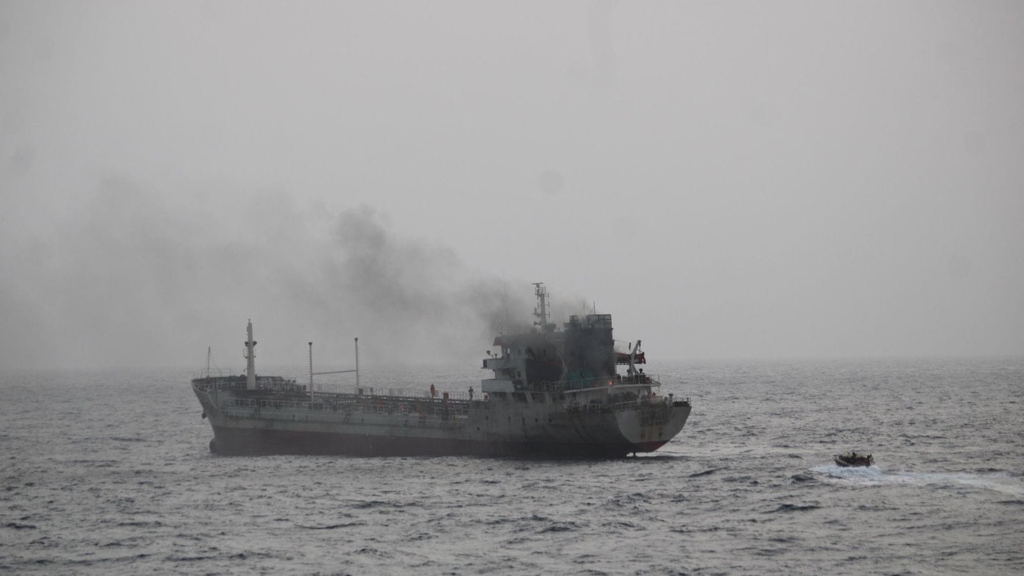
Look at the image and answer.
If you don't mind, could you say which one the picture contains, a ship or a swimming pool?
ship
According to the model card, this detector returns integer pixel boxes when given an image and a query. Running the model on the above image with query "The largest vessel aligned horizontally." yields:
[190,279,692,458]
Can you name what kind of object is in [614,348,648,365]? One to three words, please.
boat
